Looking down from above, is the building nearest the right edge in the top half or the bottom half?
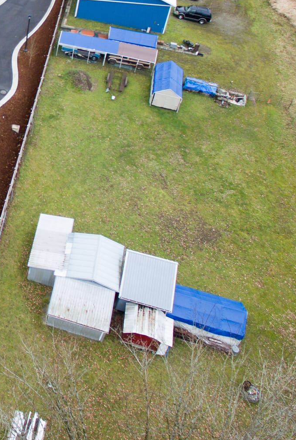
top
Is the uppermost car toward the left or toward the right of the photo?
right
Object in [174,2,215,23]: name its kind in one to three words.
car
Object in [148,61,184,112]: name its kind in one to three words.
building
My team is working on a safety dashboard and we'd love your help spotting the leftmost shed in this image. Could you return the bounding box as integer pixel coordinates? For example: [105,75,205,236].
[27,212,74,288]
